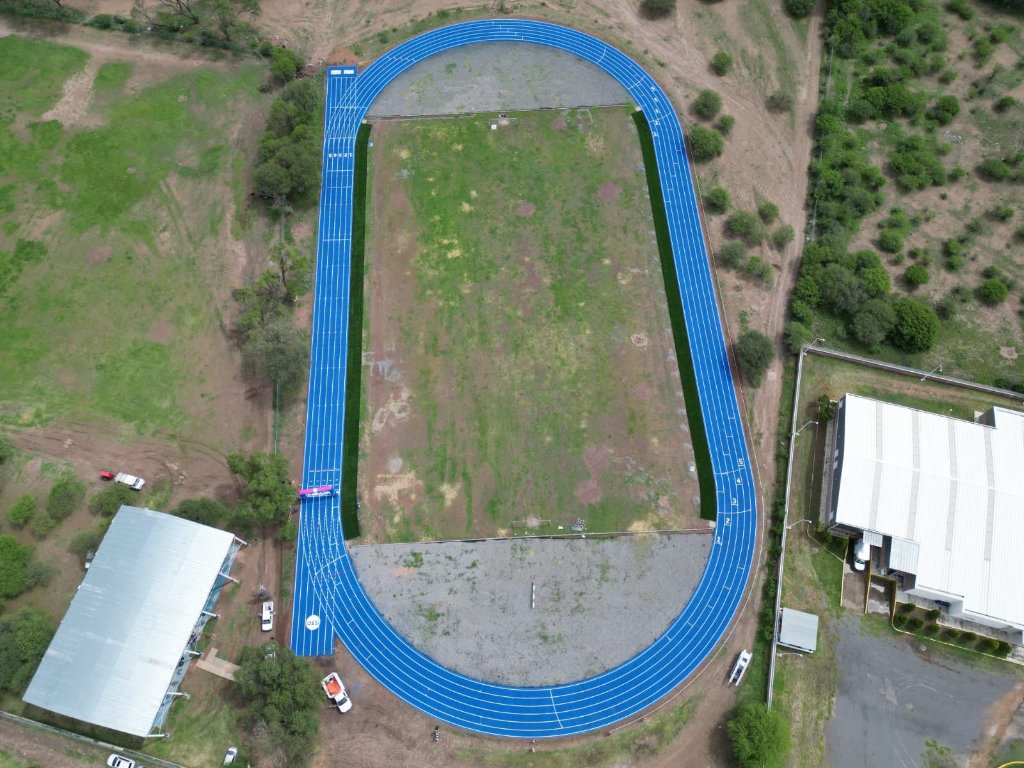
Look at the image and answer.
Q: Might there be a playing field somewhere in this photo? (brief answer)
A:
Yes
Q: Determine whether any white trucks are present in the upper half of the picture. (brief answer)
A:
No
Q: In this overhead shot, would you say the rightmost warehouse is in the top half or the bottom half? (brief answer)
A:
bottom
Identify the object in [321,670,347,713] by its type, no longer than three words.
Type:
truck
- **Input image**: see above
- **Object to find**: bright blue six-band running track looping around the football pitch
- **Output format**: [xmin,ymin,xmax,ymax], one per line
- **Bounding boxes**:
[291,19,757,738]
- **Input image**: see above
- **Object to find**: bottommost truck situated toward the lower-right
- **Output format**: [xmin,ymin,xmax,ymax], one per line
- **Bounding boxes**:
[732,649,758,686]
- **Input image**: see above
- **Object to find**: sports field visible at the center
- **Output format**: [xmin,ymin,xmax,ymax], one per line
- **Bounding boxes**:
[352,106,710,544]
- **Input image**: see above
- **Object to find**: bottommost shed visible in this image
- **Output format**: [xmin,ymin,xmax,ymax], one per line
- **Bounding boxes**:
[779,607,819,653]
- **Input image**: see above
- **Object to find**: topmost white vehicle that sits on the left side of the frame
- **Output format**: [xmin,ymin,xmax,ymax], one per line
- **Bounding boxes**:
[110,470,145,488]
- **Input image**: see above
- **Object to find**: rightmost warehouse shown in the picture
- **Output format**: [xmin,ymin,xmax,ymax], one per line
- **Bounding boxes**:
[823,392,1024,651]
